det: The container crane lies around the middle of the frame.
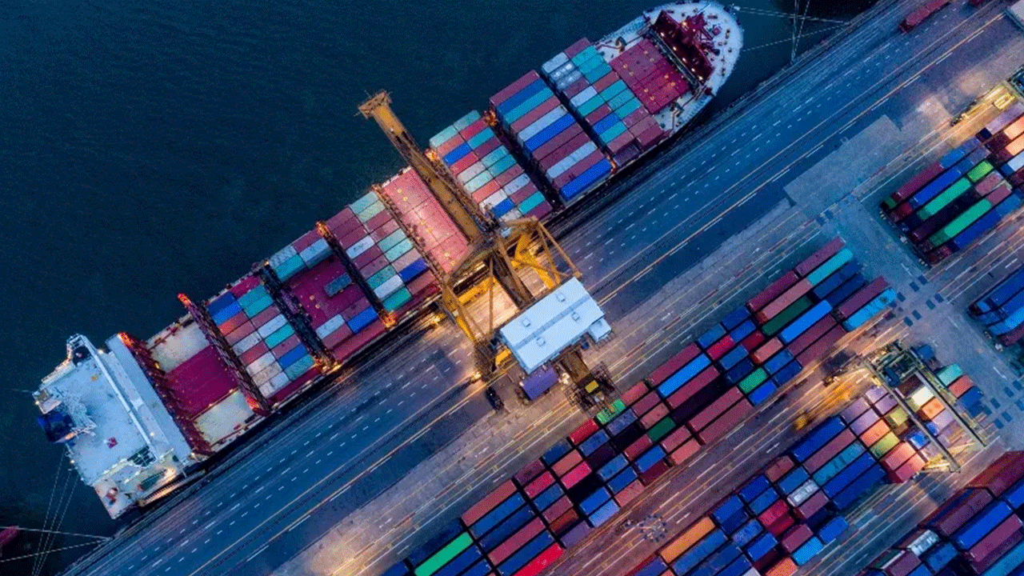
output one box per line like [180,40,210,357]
[360,84,629,420]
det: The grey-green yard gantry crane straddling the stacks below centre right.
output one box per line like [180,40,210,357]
[834,338,988,482]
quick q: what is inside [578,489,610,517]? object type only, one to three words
shipping container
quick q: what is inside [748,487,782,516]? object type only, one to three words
shipping container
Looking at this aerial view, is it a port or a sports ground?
port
